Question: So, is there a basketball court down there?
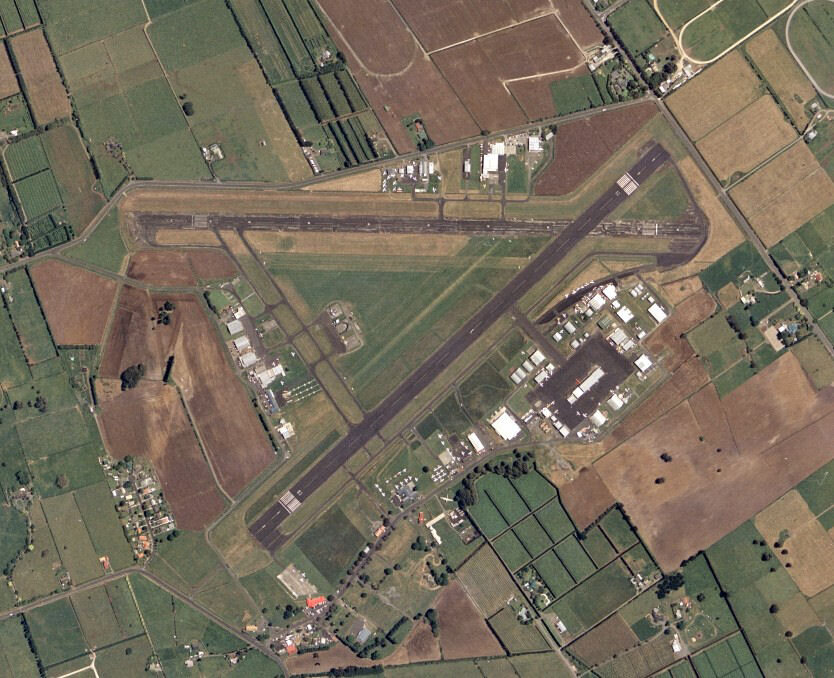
No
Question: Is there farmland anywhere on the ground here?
Yes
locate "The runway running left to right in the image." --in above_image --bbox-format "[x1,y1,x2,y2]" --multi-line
[137,213,706,236]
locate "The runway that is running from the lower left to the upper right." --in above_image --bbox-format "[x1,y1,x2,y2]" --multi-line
[249,143,670,542]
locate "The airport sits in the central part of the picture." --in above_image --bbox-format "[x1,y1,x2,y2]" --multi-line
[120,107,746,615]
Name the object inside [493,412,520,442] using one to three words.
hangar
